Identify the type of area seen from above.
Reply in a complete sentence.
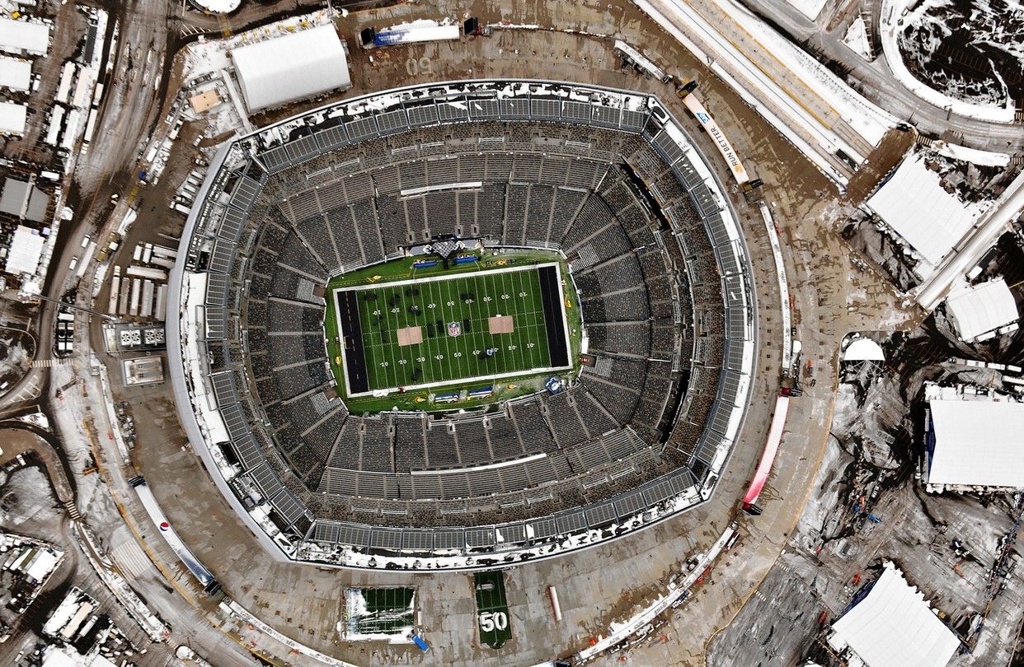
The picture captures a sports ground.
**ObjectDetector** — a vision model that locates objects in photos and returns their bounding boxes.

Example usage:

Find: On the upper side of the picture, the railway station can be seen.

[639,0,873,184]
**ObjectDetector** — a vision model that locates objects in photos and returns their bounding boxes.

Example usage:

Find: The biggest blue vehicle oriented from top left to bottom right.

[411,634,429,652]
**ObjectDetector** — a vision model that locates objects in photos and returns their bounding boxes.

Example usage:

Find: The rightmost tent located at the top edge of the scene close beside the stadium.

[229,23,350,112]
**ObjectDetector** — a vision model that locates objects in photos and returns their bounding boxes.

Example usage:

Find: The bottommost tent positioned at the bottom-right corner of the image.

[828,567,961,667]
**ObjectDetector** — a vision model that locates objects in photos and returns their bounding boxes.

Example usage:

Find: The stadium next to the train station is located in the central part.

[165,78,759,572]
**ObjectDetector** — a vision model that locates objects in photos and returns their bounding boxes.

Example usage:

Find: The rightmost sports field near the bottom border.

[474,569,512,649]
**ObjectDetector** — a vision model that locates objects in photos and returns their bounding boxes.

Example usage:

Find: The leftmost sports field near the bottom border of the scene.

[344,585,415,646]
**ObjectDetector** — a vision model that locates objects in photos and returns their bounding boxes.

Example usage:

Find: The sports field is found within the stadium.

[324,248,581,417]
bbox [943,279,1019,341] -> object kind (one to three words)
tent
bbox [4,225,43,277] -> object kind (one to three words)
building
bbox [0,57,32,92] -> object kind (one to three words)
tent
